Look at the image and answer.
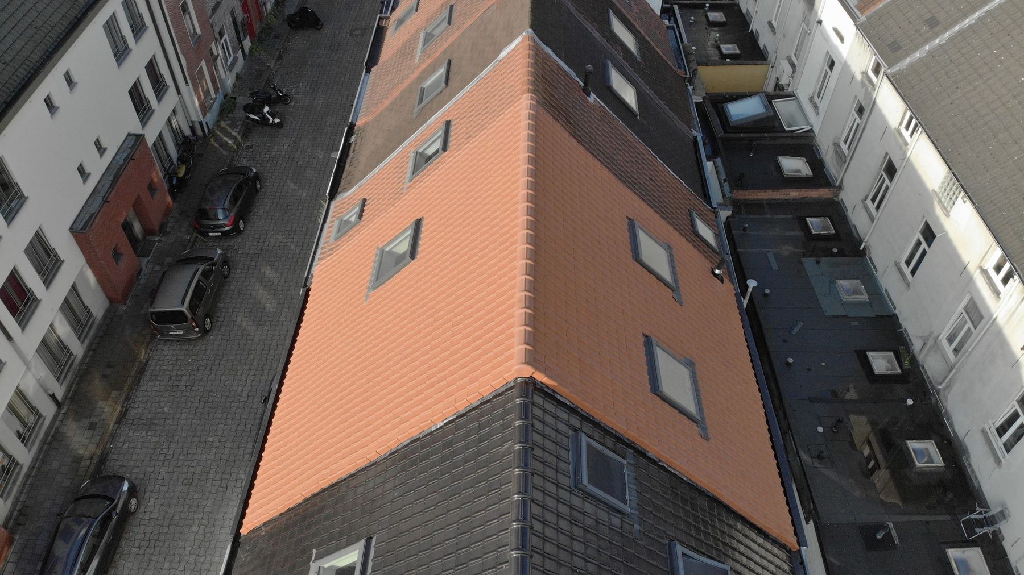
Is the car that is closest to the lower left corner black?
Yes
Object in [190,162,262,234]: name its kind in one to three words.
car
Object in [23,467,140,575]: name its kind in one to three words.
car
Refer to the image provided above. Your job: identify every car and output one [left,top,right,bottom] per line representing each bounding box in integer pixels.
[190,162,262,234]
[23,467,140,575]
[141,245,230,341]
